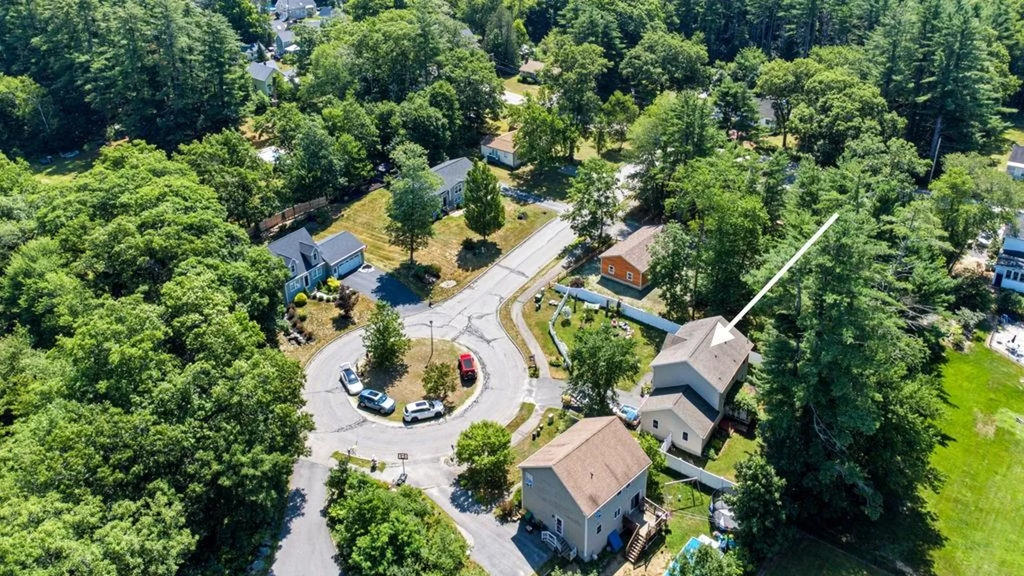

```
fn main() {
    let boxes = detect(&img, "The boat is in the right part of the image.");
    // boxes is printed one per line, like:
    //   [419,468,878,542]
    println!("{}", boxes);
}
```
[607,398,642,429]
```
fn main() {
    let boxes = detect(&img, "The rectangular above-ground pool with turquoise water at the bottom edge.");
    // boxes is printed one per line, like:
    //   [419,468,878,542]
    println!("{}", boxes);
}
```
[666,538,730,576]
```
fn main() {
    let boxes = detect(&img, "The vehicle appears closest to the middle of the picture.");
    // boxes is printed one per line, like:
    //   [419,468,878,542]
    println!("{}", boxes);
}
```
[457,354,477,380]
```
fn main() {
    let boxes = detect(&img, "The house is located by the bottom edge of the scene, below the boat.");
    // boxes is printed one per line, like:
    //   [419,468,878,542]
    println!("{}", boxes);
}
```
[518,415,677,562]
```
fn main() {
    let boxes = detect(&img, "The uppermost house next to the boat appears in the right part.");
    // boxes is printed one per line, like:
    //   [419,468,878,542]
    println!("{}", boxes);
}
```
[638,314,769,456]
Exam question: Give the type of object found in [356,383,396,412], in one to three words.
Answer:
car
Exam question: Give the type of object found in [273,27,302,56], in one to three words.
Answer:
house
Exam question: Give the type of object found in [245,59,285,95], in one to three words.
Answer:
building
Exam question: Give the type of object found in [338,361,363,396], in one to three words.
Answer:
car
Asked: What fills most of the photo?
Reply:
trees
